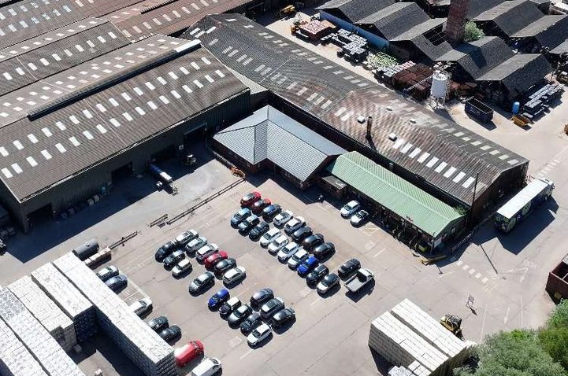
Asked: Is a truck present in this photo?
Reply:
Yes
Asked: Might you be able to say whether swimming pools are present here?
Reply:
No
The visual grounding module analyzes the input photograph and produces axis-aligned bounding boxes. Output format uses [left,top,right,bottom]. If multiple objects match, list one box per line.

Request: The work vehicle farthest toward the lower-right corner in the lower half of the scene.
[439,308,468,343]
